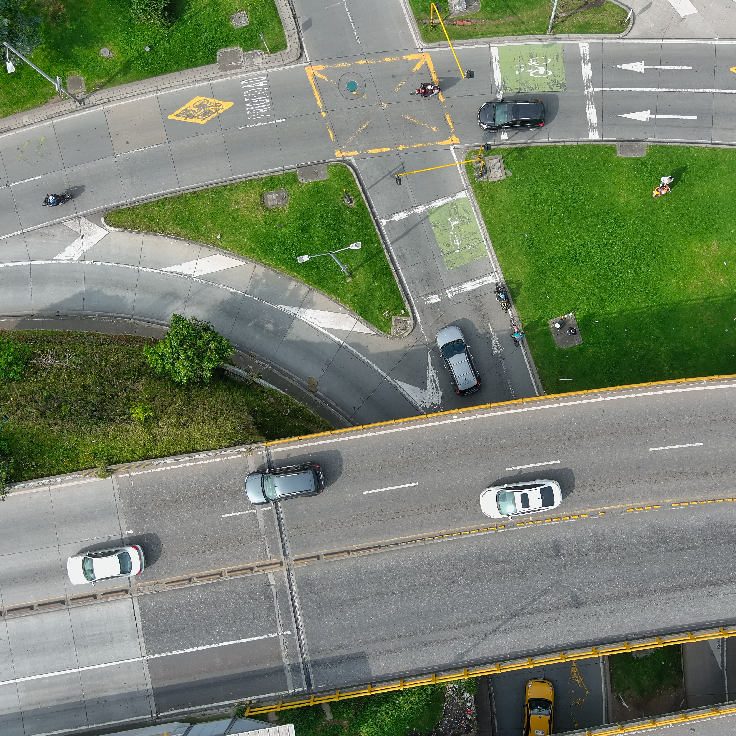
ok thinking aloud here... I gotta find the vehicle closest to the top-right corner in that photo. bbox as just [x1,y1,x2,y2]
[477,96,547,132]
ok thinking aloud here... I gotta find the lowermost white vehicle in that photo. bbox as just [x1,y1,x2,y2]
[67,542,149,587]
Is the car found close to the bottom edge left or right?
right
